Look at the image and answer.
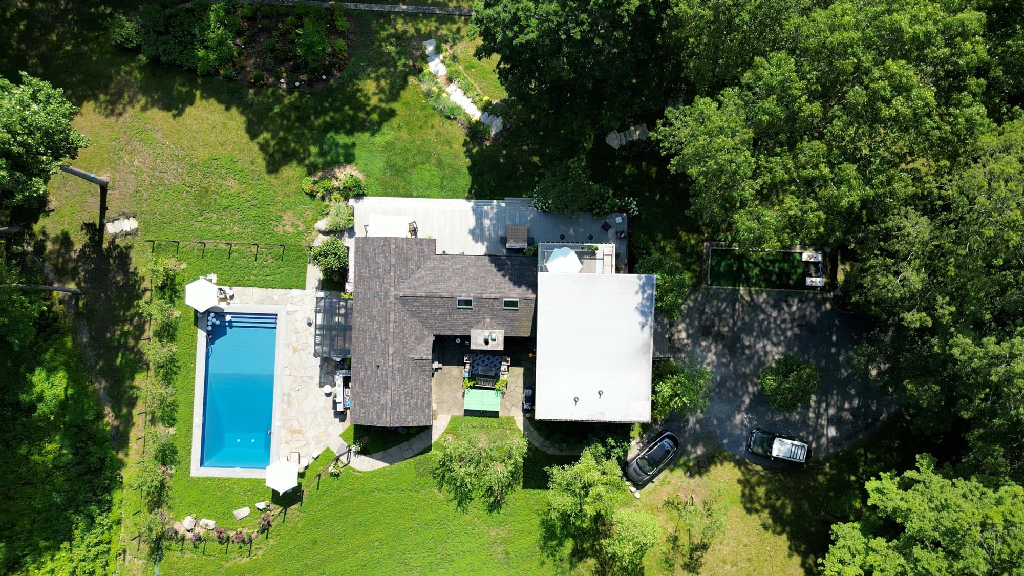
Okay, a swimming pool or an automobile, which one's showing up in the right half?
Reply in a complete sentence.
Looking in the right half, you will find an automobile.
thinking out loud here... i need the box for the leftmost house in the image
[351,237,537,433]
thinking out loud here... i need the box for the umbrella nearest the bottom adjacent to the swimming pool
[266,460,298,495]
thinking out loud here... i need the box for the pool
[190,305,286,479]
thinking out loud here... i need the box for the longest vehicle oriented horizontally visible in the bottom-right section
[746,430,815,466]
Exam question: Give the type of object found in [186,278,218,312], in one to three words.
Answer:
umbrella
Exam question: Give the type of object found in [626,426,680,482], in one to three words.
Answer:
car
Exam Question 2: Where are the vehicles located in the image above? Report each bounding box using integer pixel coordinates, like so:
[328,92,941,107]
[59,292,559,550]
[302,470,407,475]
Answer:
[746,430,815,466]
[626,426,680,482]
